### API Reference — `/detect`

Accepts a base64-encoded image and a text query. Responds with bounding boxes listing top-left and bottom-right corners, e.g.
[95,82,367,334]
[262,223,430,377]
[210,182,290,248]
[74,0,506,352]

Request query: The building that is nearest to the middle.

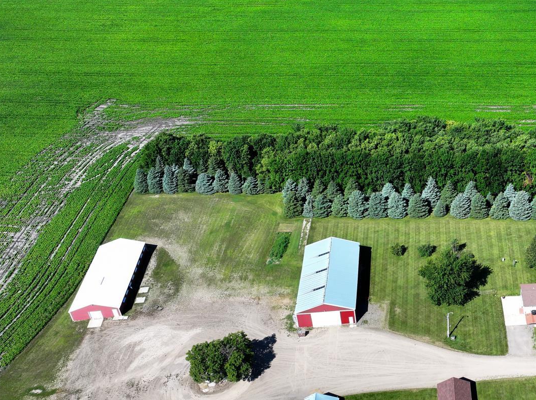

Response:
[295,234,361,328]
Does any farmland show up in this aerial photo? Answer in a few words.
Yes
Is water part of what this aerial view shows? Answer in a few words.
No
